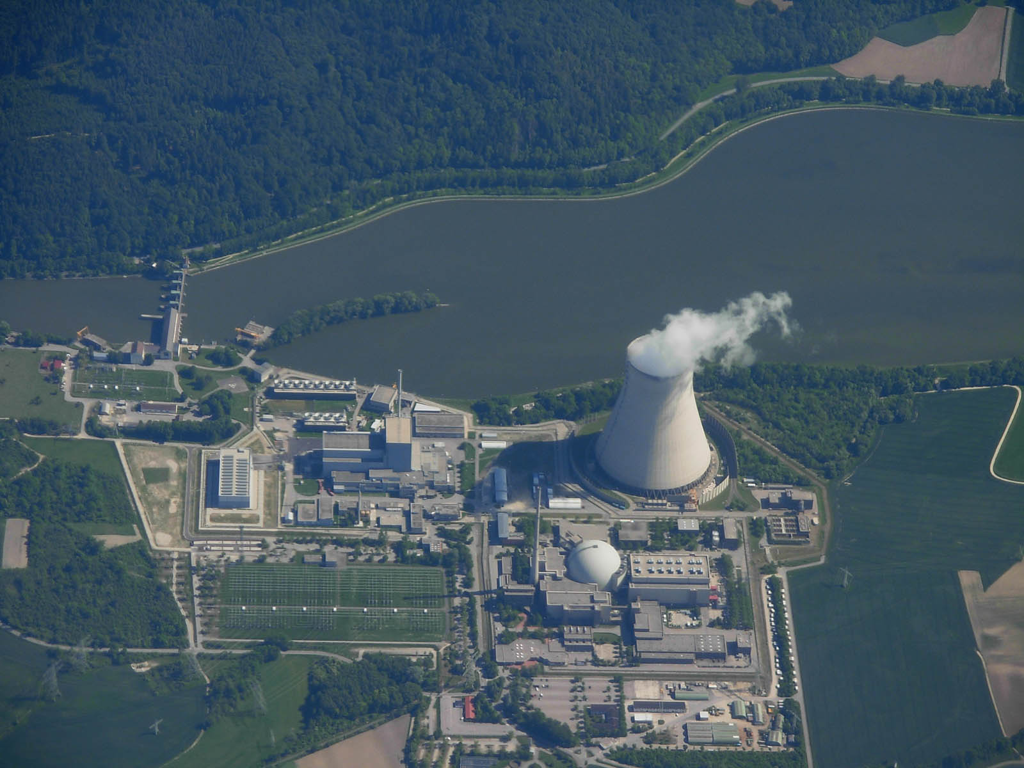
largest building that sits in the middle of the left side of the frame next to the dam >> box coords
[159,308,181,363]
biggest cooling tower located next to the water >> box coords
[586,332,720,503]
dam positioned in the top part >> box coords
[156,265,188,315]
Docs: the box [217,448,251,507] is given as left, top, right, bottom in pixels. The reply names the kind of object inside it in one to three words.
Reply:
building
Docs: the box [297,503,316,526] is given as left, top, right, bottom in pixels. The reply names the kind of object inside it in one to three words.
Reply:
building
